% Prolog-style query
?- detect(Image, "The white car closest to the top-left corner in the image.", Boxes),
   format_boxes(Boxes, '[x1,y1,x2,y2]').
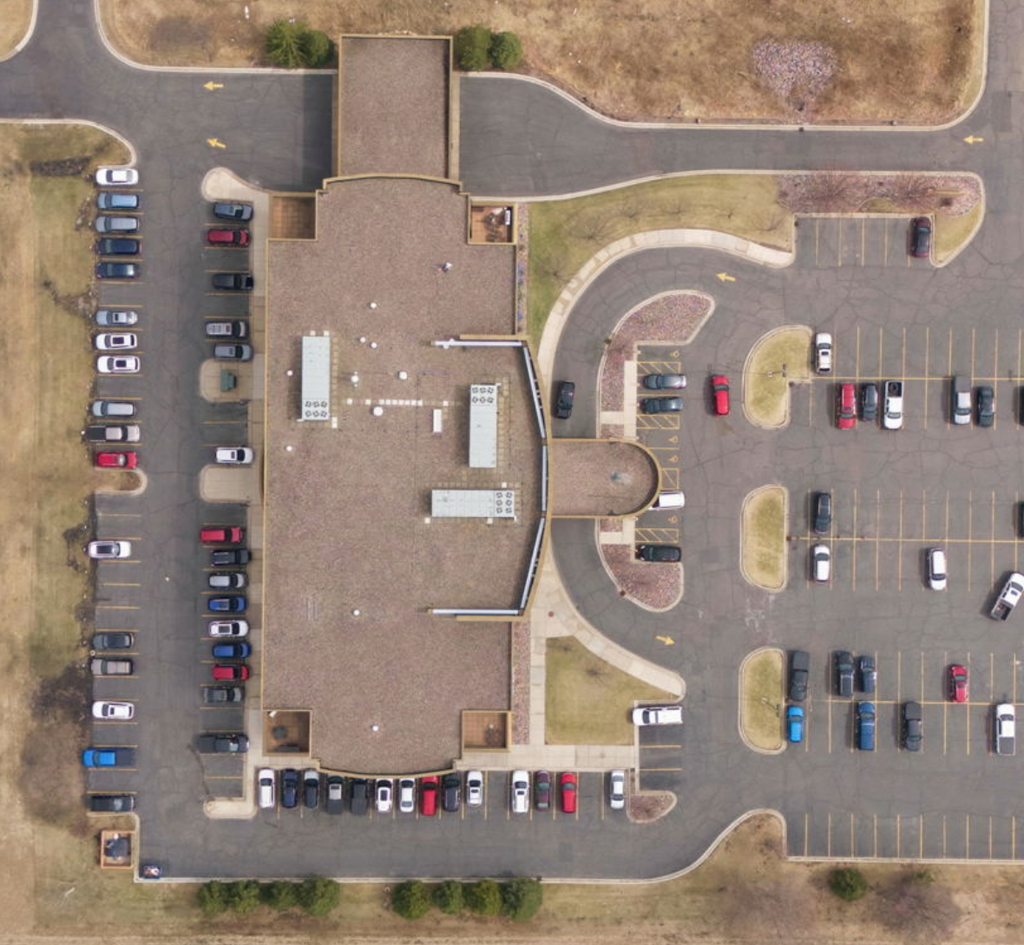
[97,166,140,186]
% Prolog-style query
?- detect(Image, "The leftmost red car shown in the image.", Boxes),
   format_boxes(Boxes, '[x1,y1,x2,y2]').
[97,450,140,470]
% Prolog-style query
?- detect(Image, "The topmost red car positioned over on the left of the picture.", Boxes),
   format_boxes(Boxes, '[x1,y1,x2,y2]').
[207,226,250,246]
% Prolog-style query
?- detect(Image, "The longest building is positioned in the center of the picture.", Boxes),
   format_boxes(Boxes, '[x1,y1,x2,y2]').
[263,174,551,776]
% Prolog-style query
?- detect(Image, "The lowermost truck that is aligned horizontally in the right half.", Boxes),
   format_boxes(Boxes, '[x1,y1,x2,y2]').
[632,705,684,727]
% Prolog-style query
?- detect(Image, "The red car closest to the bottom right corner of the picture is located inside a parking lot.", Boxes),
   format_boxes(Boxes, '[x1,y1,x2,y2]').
[947,663,968,703]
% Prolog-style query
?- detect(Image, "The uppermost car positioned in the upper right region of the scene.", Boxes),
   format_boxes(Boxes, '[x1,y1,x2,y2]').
[910,217,931,258]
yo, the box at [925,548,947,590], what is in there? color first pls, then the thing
white car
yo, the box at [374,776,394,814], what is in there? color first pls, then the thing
white car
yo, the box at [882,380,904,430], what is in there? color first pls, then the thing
white truck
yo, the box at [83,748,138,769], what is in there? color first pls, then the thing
blue truck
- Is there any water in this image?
No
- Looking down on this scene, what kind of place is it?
parking lot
